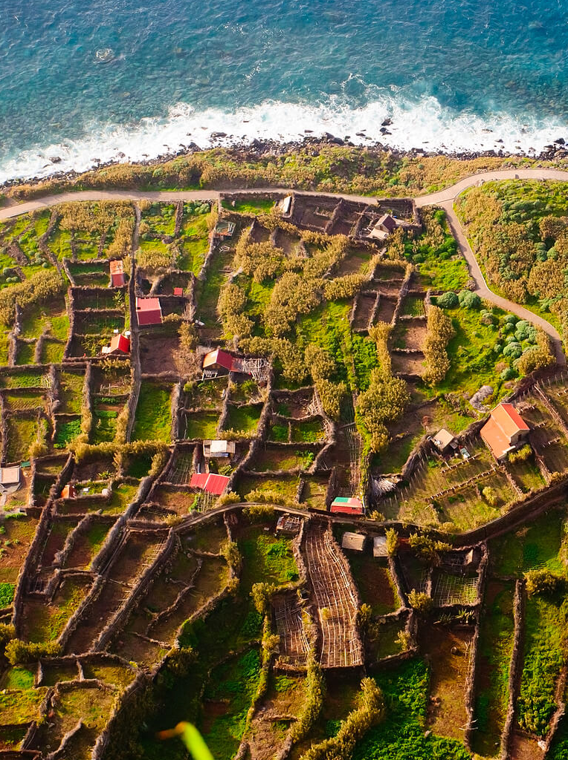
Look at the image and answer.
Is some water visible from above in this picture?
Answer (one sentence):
Yes, water shows up in the scene.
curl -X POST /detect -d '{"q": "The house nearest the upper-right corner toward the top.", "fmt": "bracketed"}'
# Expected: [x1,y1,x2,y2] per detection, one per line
[367,215,395,245]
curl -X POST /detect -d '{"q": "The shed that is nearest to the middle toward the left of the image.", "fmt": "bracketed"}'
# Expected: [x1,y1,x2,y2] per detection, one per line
[203,350,243,377]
